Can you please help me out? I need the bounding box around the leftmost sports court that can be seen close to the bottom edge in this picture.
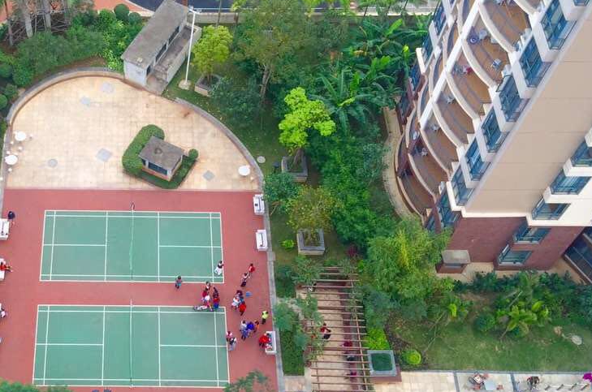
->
[32,296,229,388]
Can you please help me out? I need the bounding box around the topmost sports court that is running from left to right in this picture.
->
[40,200,224,283]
